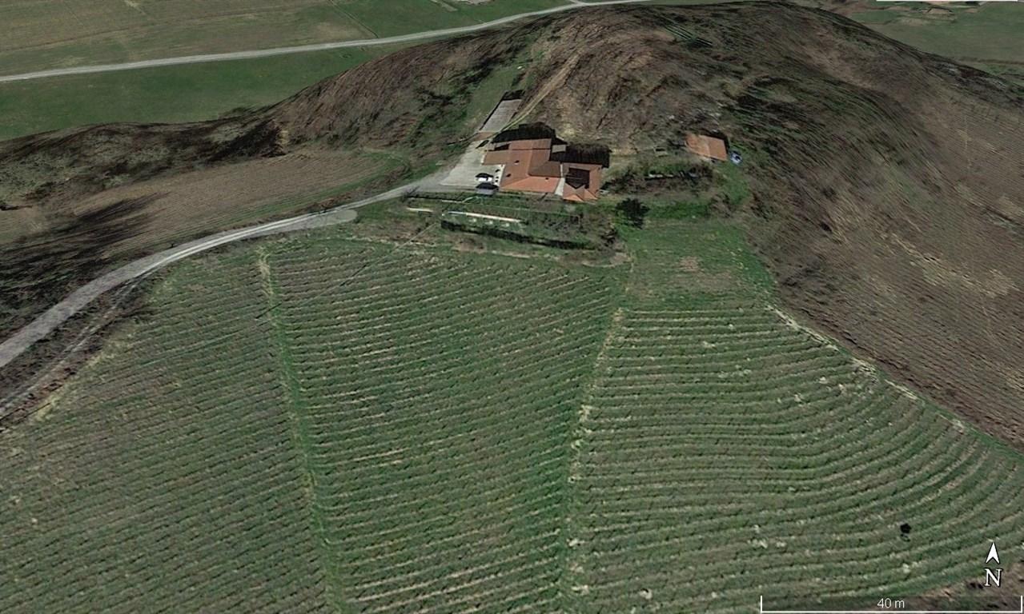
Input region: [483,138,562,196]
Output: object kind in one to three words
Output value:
house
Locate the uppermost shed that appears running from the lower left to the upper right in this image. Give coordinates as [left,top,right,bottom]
[481,99,521,136]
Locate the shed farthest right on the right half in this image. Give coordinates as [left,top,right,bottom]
[686,133,727,164]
